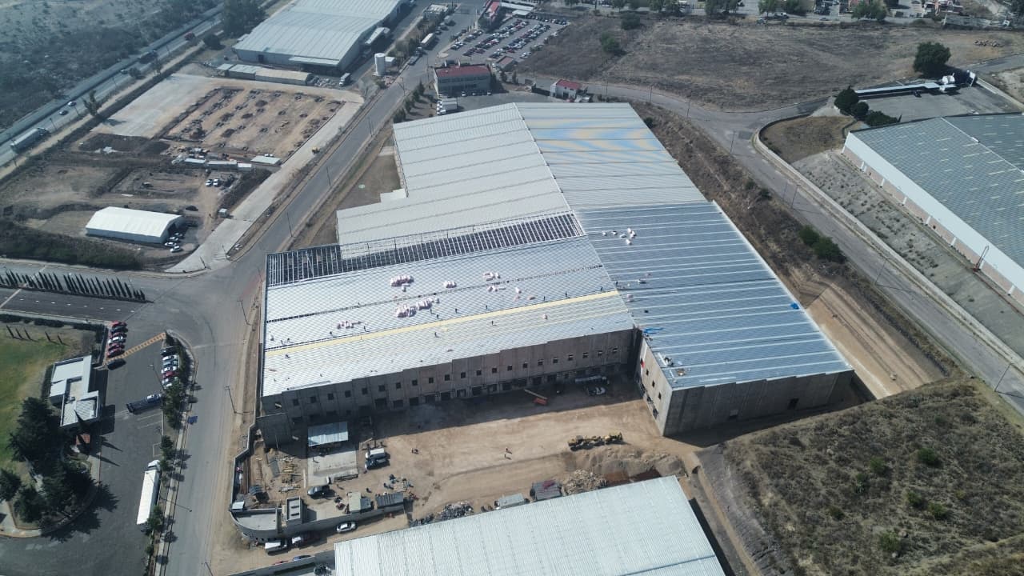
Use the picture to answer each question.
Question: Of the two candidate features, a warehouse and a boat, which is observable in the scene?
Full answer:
This aerial view contains a warehouse.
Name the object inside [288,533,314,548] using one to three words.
vehicle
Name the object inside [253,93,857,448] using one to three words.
warehouse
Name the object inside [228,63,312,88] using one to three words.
shed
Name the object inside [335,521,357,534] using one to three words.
vehicle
